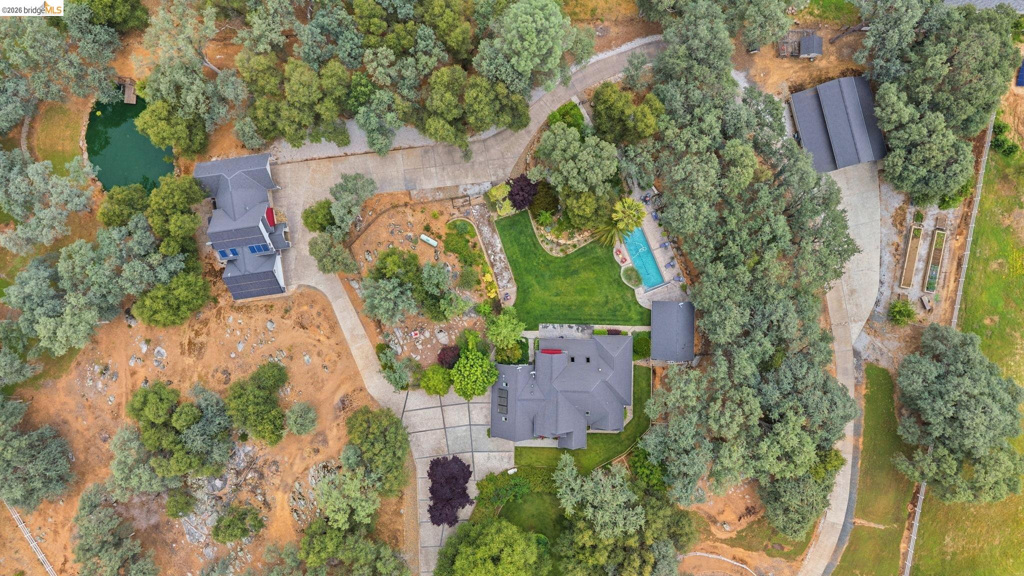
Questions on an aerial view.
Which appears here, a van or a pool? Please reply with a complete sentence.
There is a pool in the scene.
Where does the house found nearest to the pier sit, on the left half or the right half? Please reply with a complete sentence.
The house found nearest to the pier sits on the left side.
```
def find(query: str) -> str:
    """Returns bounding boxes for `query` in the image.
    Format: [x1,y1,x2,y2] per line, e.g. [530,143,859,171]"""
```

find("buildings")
[650,301,695,361]
[787,76,887,174]
[490,335,632,449]
[194,152,293,300]
[796,35,822,58]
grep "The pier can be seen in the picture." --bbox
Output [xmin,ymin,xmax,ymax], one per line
[118,77,140,105]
